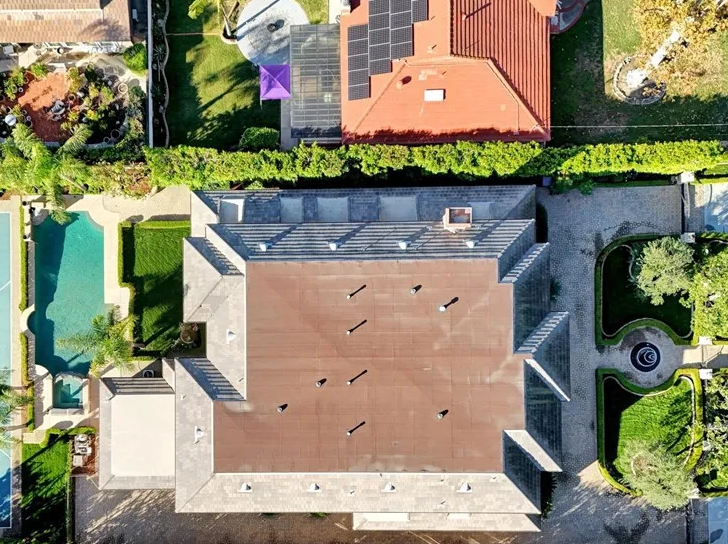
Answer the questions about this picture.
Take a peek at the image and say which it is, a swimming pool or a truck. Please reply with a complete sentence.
Visible in the photo is a swimming pool.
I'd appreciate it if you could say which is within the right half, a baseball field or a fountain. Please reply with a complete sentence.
There is a fountain within the right half.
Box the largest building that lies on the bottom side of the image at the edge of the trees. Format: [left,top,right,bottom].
[161,184,571,532]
